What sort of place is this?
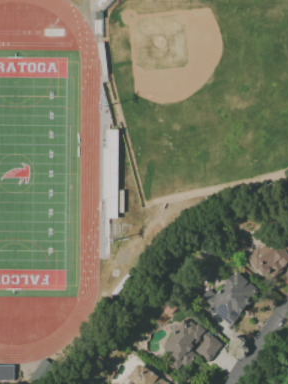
sports ground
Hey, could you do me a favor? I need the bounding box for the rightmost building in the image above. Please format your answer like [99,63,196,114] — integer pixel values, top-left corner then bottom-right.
[251,245,288,278]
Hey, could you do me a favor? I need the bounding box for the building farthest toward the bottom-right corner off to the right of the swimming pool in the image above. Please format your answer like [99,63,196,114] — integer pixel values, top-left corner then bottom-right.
[196,334,222,362]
